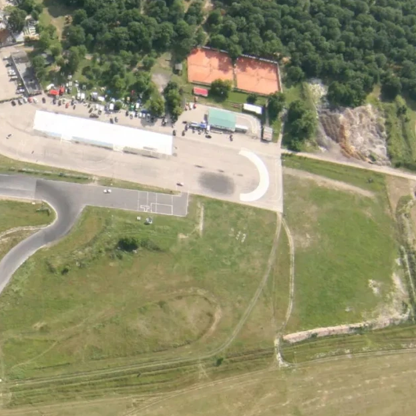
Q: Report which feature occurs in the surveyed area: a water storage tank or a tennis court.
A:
tennis court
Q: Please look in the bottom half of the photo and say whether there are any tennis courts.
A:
No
